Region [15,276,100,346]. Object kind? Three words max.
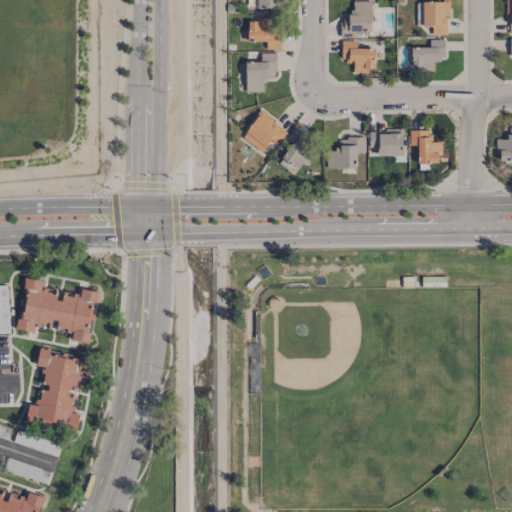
building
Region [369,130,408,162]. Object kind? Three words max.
house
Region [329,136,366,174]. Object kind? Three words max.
house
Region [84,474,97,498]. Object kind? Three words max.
vehicle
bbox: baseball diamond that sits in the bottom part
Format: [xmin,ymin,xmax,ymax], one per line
[262,289,480,508]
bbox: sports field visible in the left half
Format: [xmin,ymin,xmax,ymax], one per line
[0,0,79,161]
